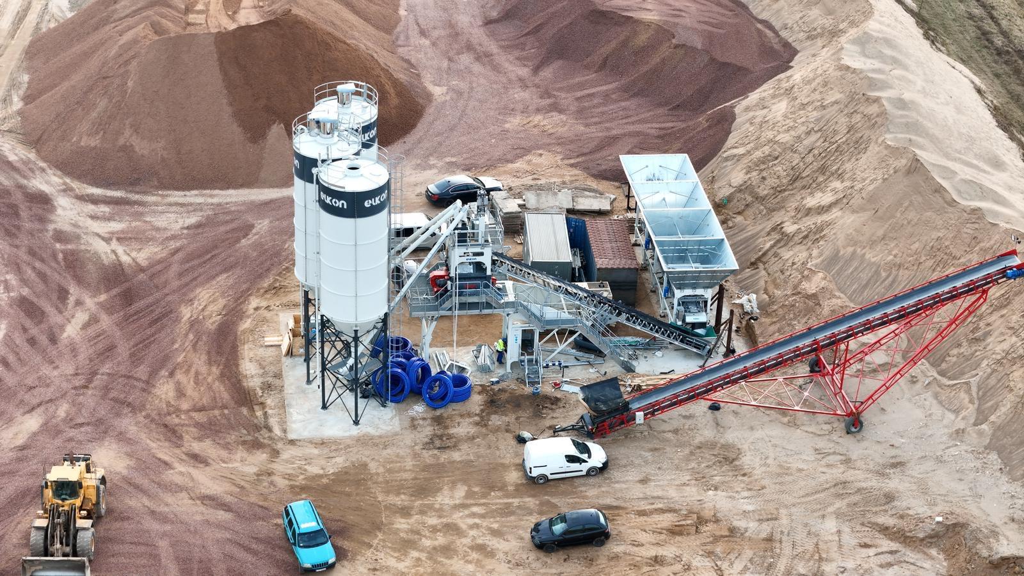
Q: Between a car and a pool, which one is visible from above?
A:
car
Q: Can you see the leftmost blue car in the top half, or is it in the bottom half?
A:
bottom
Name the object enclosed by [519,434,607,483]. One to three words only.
van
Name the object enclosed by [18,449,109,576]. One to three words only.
work vehicle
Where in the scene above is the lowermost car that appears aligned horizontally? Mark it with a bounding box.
[530,506,614,553]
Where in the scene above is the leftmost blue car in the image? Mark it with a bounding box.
[286,496,334,574]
